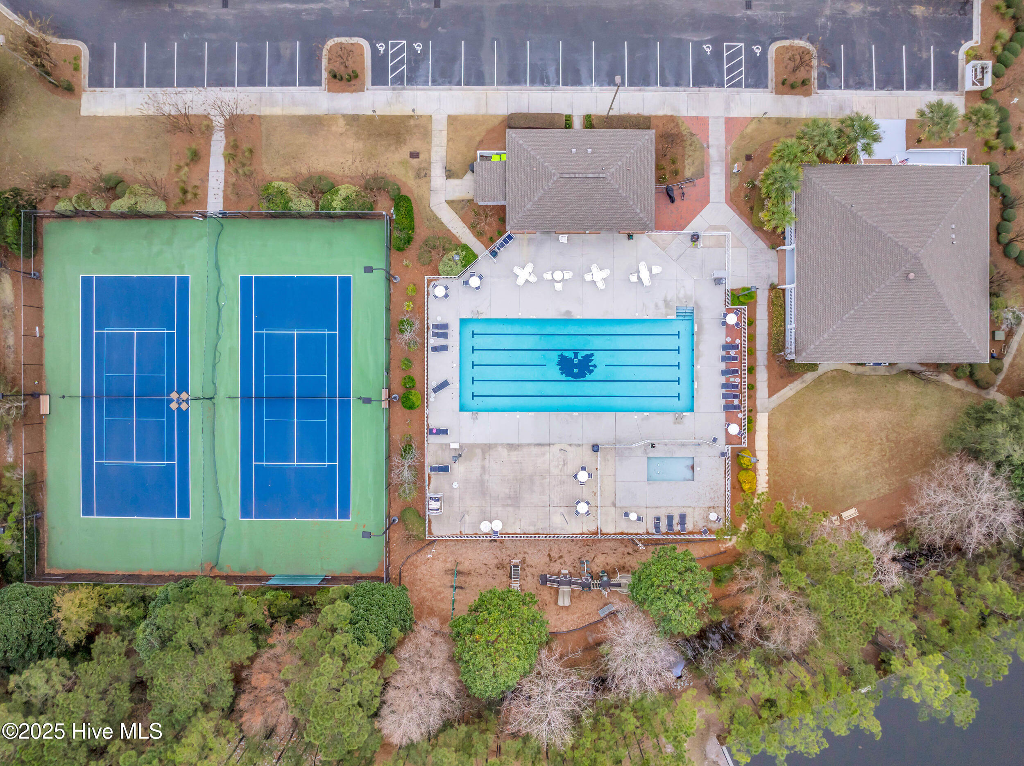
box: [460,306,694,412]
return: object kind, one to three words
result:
swimming pool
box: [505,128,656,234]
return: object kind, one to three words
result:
building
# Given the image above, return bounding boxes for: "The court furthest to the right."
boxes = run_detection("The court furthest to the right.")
[215,218,390,575]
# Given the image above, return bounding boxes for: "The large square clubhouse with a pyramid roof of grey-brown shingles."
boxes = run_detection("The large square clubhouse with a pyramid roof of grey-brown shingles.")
[776,146,990,364]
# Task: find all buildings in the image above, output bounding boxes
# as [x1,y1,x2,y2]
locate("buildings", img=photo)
[776,146,990,364]
[505,128,656,234]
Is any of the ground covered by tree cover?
Yes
